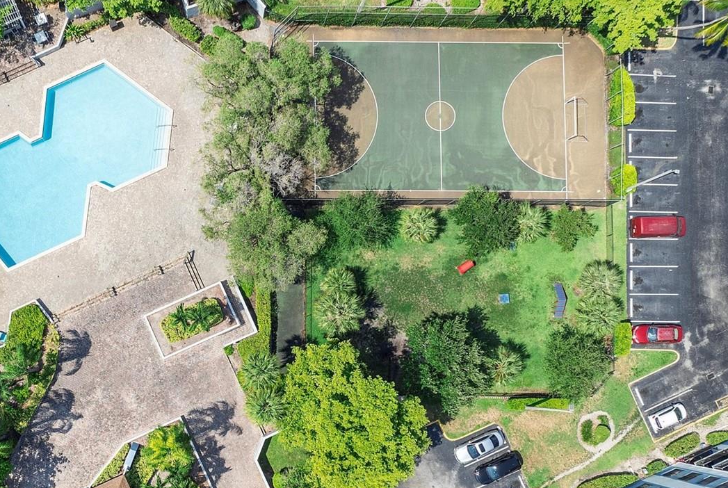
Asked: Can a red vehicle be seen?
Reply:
Yes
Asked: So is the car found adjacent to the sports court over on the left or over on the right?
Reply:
right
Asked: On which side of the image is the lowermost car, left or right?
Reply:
right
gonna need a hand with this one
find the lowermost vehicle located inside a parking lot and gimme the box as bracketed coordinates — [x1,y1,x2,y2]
[470,450,524,484]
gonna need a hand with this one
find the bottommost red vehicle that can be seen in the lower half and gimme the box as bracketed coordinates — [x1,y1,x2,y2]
[635,324,681,346]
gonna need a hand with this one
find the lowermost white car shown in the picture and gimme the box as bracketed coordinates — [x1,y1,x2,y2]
[452,428,504,461]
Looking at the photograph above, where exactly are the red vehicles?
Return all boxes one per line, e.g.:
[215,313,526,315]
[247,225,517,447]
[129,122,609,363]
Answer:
[626,214,685,238]
[635,324,681,346]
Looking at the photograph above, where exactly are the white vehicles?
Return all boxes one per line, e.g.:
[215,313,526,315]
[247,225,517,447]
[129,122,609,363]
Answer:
[452,428,504,461]
[643,403,687,433]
